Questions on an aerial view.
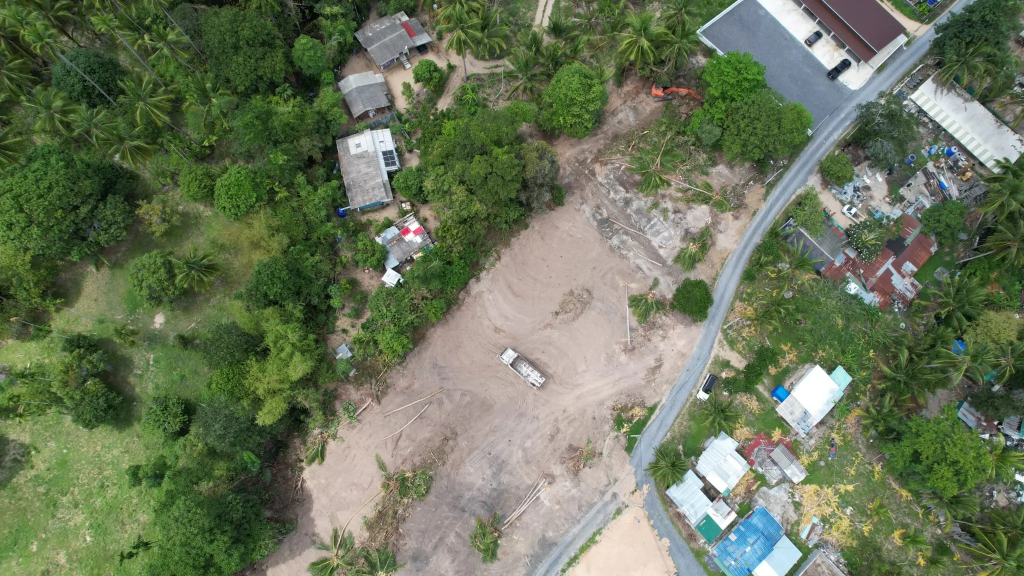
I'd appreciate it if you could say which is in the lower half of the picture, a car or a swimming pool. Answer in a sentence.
The one visible in the lower half of the picture is a car.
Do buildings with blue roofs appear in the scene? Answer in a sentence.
Yes, the photo shows a building with a blue roof.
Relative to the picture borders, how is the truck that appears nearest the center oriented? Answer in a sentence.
From this overhead view, the truck that appears nearest the center appears to run on a diagonal.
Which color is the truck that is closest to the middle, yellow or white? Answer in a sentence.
In this view, the truck that is closest to the middle is white.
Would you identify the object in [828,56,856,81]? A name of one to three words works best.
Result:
truck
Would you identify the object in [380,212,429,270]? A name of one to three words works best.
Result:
shed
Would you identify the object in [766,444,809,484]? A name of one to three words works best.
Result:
building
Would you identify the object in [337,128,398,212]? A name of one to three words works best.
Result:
house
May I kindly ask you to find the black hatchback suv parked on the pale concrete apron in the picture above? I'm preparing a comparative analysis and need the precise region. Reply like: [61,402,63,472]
[804,26,828,47]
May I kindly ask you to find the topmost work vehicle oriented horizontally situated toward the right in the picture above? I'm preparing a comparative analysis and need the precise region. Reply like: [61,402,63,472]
[653,85,701,105]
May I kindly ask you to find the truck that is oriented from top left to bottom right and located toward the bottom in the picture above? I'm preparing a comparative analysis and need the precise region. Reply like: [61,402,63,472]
[494,344,547,393]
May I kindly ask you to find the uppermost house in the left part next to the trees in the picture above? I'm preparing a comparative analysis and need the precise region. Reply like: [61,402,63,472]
[355,11,431,77]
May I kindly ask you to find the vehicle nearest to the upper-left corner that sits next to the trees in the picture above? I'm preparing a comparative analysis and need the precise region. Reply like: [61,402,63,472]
[415,43,432,60]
